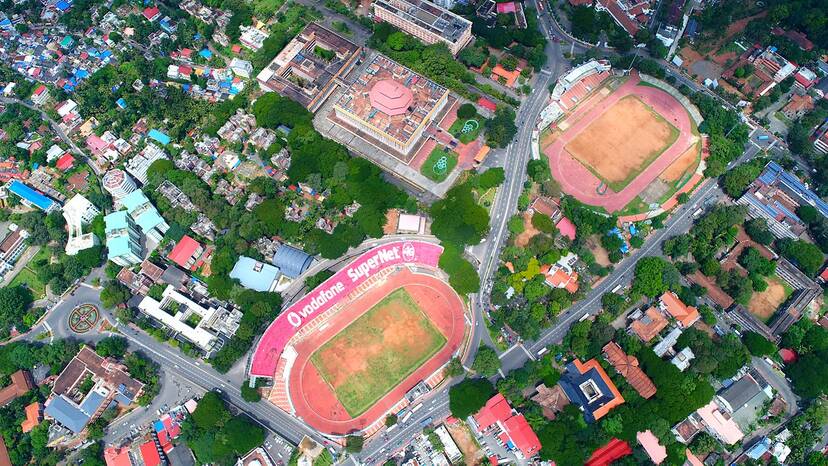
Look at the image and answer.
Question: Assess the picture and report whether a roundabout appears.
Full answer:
Yes, this view includes a roundabout.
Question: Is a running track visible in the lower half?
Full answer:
Yes, there is a running track in the lower half.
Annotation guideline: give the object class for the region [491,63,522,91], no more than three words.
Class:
house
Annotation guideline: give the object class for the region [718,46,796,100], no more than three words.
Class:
building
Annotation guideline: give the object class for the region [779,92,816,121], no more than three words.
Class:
house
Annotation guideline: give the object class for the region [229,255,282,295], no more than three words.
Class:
building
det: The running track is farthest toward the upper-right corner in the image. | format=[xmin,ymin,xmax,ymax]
[546,74,692,209]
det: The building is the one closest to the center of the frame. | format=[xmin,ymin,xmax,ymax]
[396,213,425,239]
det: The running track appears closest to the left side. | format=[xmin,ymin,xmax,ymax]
[288,273,469,438]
